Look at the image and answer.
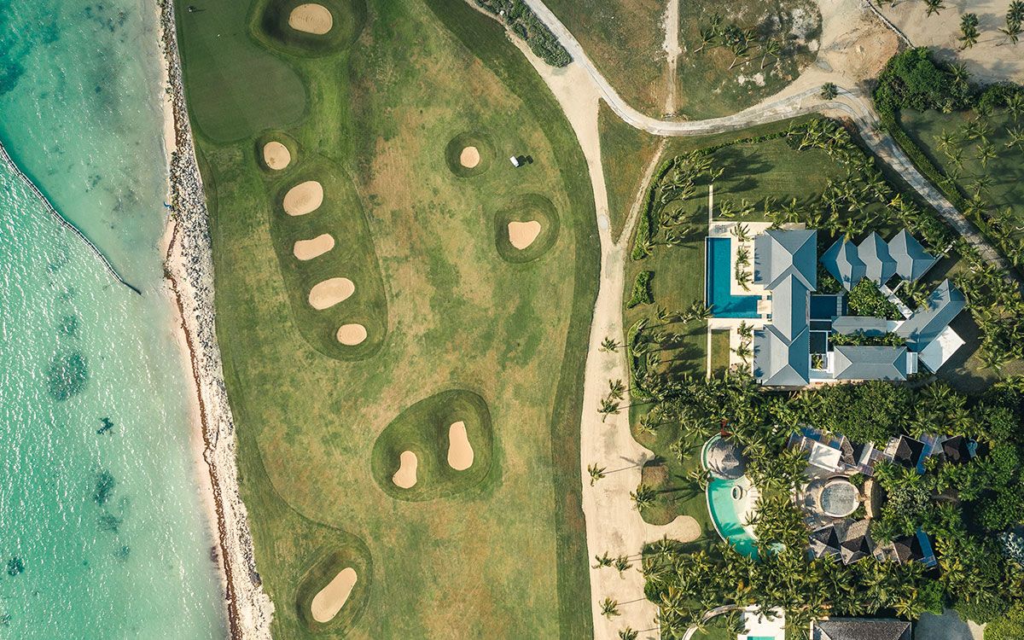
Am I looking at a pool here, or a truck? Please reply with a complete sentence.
Looking from above, you can make out a pool.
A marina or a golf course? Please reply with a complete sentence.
The picture captures a golf course.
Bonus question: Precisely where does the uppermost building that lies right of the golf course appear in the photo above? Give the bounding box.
[817,228,935,289]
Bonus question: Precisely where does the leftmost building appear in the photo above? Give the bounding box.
[704,437,745,478]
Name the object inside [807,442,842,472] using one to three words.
house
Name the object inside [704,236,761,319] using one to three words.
swimming pool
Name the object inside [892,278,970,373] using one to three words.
house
